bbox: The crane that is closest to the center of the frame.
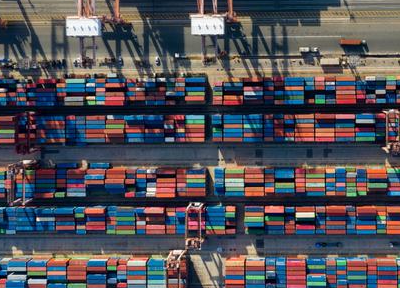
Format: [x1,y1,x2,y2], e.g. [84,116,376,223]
[185,194,211,251]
